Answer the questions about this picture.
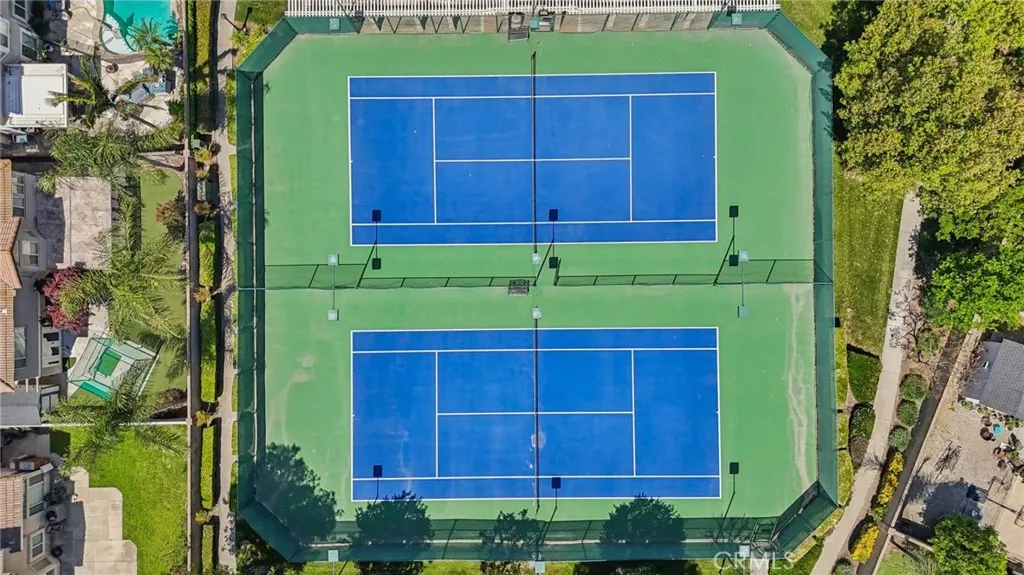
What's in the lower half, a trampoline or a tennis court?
tennis court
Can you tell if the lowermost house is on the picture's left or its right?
left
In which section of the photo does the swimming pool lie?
top left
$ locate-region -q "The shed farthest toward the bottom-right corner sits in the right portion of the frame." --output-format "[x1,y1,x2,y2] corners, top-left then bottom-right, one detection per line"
[961,339,1024,416]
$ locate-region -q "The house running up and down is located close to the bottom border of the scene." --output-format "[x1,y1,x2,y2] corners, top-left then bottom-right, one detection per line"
[0,449,61,575]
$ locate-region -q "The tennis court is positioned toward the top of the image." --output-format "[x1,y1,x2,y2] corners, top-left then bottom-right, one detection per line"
[348,71,718,246]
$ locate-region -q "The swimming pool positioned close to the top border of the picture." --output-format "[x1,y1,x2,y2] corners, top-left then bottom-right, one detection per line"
[95,0,182,59]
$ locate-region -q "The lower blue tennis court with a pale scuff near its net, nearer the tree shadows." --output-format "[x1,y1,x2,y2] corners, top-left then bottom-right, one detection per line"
[351,327,722,501]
